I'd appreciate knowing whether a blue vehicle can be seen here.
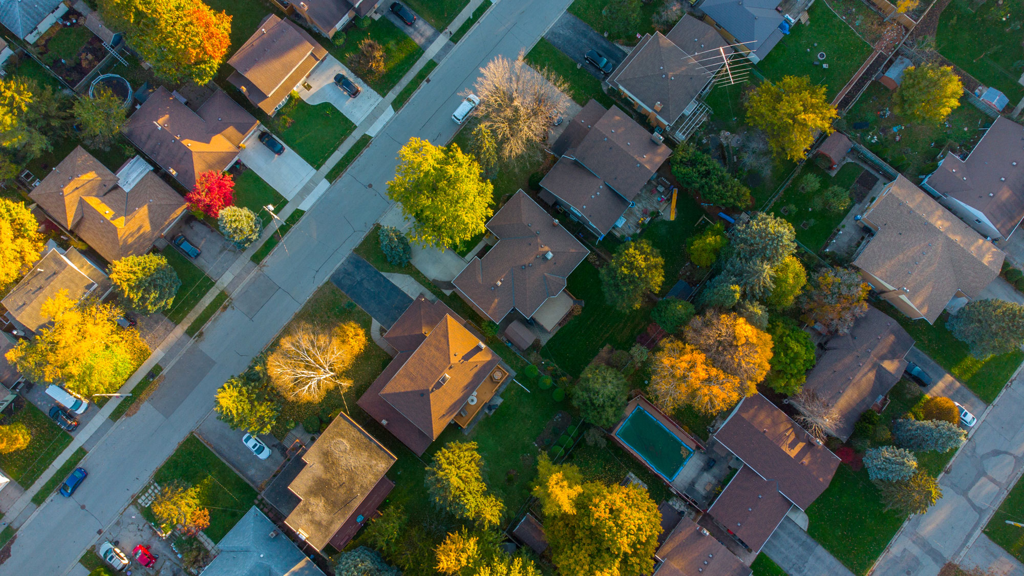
Yes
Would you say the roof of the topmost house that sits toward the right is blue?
Yes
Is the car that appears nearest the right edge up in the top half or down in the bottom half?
bottom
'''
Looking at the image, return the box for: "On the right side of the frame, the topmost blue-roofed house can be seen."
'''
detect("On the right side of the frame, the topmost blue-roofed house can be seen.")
[696,0,786,62]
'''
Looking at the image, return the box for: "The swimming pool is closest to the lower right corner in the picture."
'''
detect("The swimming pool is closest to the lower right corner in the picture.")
[610,395,706,487]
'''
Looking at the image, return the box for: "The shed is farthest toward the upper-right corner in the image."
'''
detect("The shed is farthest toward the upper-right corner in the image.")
[972,87,1010,115]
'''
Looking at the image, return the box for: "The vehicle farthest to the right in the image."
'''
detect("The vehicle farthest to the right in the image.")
[954,400,980,431]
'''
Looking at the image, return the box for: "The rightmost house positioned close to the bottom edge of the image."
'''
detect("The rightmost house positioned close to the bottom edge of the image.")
[705,391,842,554]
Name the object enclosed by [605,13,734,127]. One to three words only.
house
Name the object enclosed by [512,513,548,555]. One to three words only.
shed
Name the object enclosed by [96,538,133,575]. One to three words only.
car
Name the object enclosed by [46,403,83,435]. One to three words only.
truck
